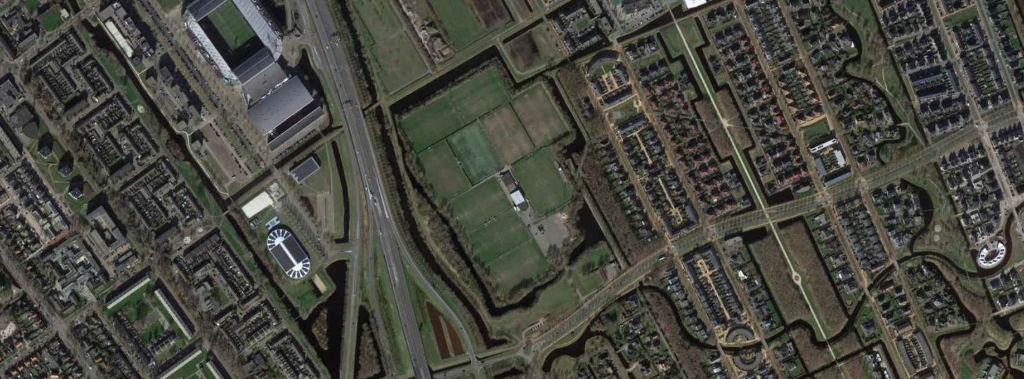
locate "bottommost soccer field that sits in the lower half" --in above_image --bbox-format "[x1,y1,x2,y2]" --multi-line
[487,241,549,293]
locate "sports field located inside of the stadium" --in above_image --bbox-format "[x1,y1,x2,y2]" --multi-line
[206,6,256,60]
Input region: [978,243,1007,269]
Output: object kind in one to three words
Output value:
building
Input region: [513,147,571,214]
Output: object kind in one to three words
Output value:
soccer field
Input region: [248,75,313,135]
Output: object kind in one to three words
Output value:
building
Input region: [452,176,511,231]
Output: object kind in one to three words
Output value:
soccer field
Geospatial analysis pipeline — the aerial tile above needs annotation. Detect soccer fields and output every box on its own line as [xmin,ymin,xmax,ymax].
[452,176,511,231]
[513,147,571,214]
[448,66,511,122]
[446,121,502,185]
[513,85,568,146]
[483,105,534,165]
[402,96,464,153]
[419,141,470,201]
[471,212,531,265]
[487,241,549,293]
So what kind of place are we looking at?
residential area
